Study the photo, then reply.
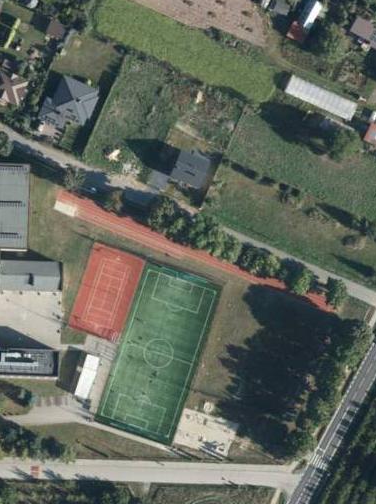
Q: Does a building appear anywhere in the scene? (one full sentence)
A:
Yes, there is a building in the image.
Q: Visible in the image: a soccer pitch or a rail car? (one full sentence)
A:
This aerial view contains a soccer pitch.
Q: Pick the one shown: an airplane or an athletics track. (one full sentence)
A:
I can see an athletics track in this picture.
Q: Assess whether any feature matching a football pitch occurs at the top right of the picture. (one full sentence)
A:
No, I see no football pitch at the top right of the picture.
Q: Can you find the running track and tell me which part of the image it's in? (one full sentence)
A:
The running track sits in the center section of the image.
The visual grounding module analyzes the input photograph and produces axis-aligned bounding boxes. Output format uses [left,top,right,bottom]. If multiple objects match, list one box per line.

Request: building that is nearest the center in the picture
[146,148,211,190]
